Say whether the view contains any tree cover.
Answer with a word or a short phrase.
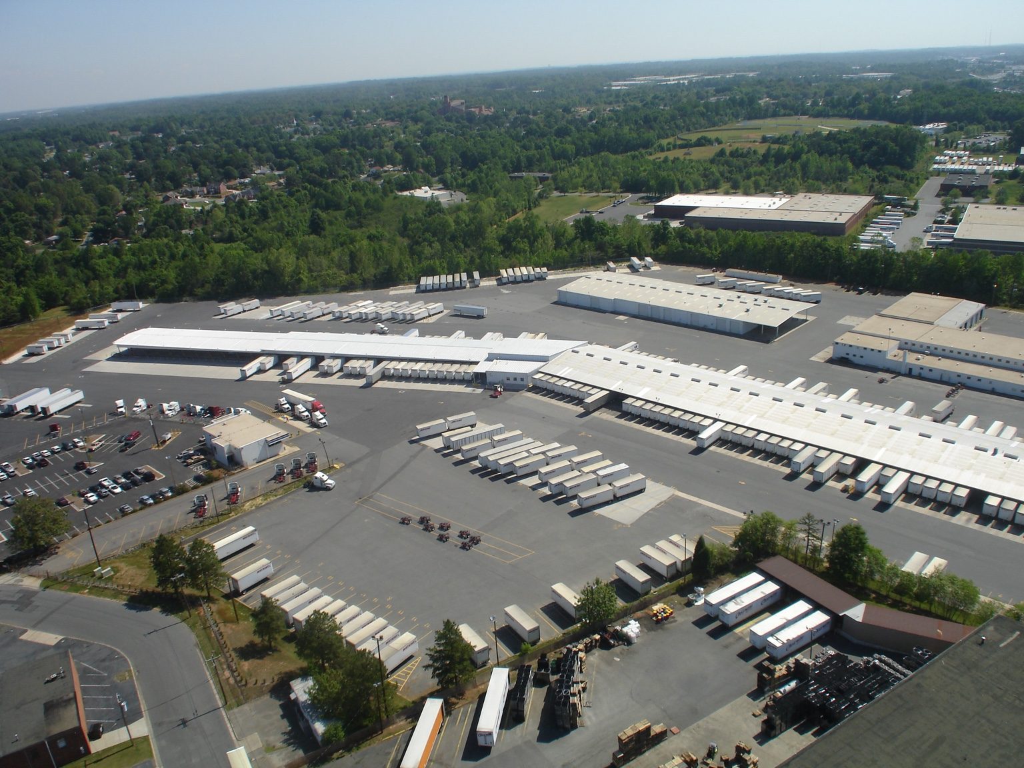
Yes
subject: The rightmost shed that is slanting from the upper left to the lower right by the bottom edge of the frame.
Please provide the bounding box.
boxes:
[288,676,350,757]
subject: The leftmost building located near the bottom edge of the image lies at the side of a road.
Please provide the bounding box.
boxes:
[0,647,87,768]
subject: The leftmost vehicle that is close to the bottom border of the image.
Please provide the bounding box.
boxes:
[83,719,107,741]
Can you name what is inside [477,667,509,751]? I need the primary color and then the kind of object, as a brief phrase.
white trailer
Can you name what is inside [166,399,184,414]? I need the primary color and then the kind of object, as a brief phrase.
white vehicle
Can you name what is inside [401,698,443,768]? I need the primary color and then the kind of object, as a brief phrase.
white trailer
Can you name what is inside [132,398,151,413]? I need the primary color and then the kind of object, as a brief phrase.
white vehicle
